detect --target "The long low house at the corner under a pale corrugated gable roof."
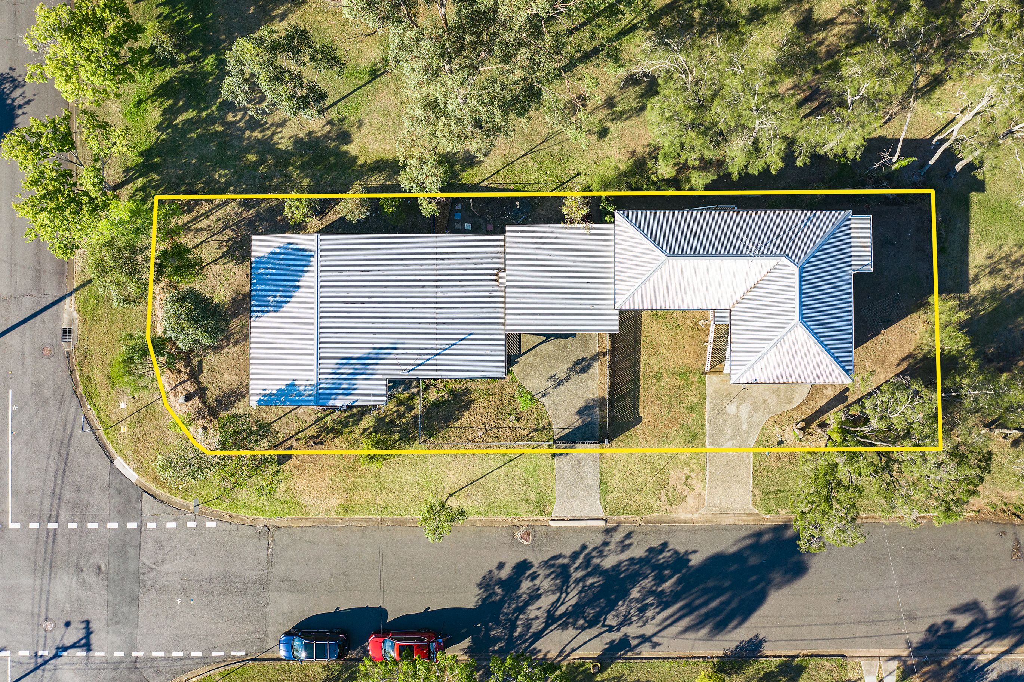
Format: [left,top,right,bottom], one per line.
[249,233,507,408]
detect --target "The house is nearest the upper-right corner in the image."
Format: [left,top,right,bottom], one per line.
[612,208,876,385]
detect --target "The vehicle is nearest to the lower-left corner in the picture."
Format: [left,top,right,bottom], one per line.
[280,628,350,665]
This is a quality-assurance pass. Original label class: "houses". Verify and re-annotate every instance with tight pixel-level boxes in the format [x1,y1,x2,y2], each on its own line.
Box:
[612,208,876,385]
[249,233,507,408]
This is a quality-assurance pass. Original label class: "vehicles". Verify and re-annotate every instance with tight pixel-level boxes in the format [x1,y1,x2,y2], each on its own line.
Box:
[368,629,441,665]
[280,628,350,665]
